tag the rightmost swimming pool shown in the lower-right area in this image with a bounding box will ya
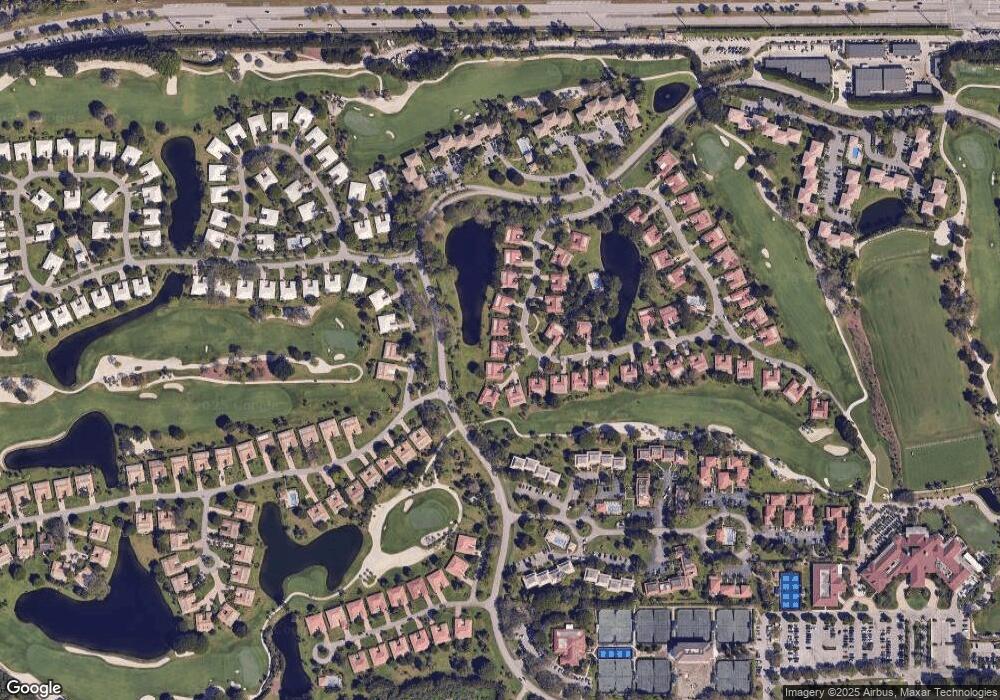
[725,526,737,546]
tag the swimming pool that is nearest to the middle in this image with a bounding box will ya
[587,270,604,289]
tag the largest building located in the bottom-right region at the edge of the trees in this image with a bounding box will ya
[860,526,977,596]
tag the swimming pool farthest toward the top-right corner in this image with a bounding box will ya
[850,145,865,165]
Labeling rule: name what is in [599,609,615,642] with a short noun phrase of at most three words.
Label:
tennis court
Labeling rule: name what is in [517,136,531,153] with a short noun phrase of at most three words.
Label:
swimming pool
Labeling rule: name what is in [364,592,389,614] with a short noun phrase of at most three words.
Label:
house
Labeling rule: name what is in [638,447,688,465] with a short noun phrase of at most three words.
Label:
building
